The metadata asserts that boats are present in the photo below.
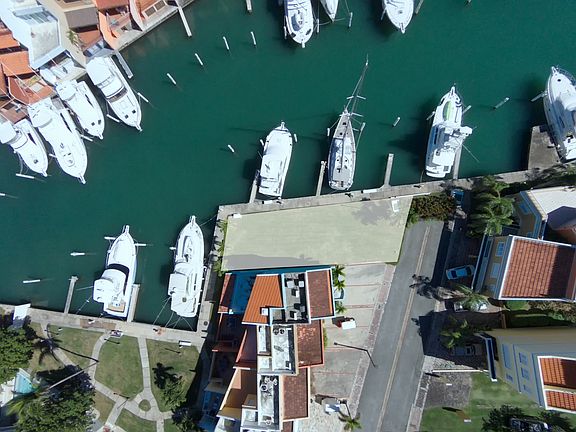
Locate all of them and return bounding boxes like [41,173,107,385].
[0,117,51,176]
[538,68,576,168]
[50,76,104,137]
[76,226,139,322]
[320,0,338,22]
[419,87,476,184]
[24,93,88,184]
[256,122,294,200]
[84,48,141,128]
[152,214,217,328]
[328,58,375,196]
[284,0,317,48]
[378,0,411,32]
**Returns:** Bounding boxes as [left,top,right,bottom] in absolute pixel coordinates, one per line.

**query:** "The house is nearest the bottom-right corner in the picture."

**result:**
[473,331,576,413]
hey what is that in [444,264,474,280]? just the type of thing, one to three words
car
